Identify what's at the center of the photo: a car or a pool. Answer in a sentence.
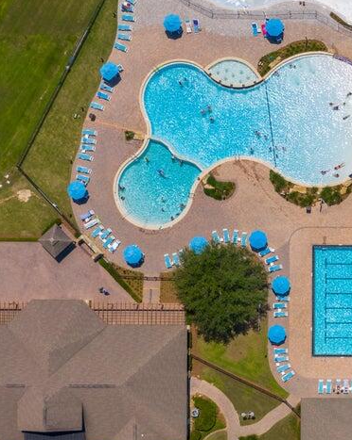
The one visible at the center of the photo is a pool.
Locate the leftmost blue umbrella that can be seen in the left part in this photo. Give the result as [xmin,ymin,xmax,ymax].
[68,182,86,200]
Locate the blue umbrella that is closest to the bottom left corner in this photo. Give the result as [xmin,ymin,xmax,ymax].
[124,247,142,264]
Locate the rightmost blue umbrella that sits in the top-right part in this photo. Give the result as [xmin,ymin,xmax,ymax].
[265,19,283,37]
